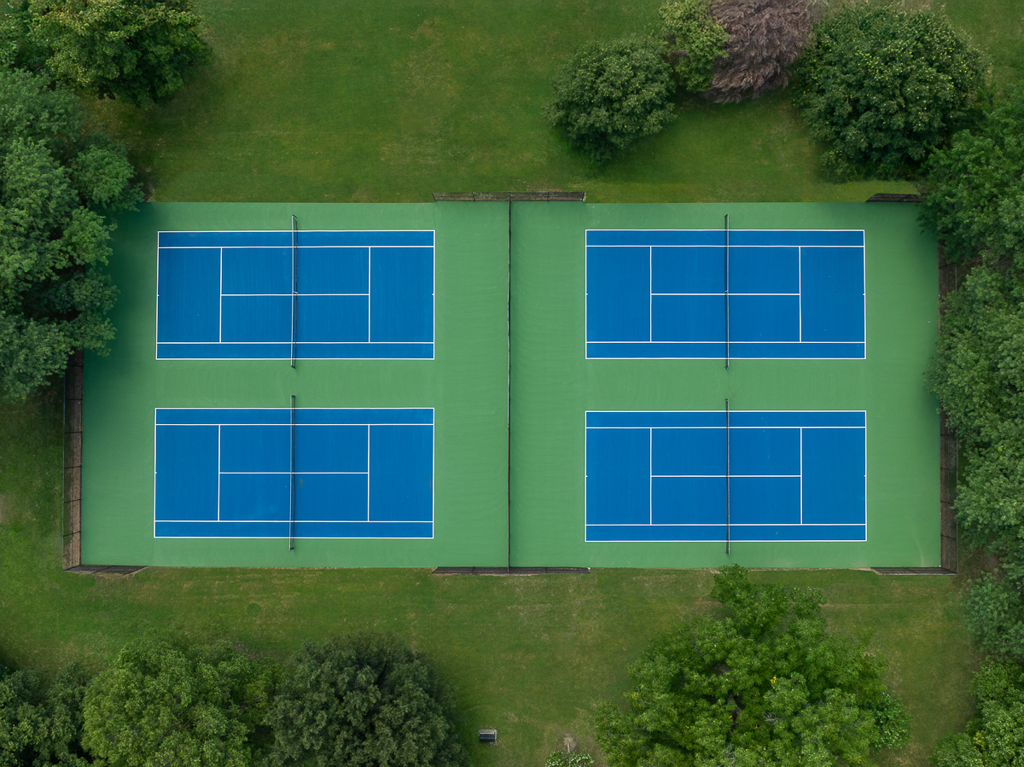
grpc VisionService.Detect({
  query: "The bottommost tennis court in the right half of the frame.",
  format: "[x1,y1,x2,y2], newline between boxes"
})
[586,411,867,541]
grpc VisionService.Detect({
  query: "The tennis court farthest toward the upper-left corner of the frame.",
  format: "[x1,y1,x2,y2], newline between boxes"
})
[157,231,434,359]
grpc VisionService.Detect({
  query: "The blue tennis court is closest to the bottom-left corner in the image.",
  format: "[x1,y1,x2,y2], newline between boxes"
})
[155,408,433,538]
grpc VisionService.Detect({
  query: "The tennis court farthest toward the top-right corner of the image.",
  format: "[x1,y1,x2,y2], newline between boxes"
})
[586,230,865,358]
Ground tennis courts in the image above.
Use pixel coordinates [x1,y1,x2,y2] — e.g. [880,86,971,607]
[586,411,867,541]
[586,230,865,358]
[157,231,434,359]
[155,408,433,538]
